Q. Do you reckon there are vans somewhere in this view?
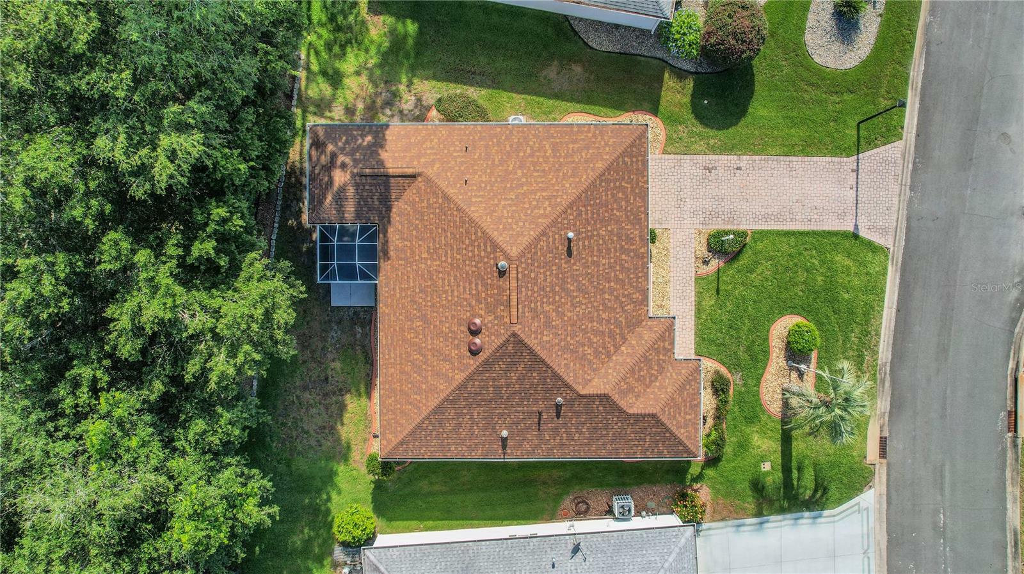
No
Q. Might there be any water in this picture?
No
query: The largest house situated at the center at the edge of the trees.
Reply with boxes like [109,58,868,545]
[307,123,703,460]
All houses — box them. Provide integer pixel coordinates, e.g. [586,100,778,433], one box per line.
[478,0,676,35]
[307,123,703,460]
[361,516,699,574]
